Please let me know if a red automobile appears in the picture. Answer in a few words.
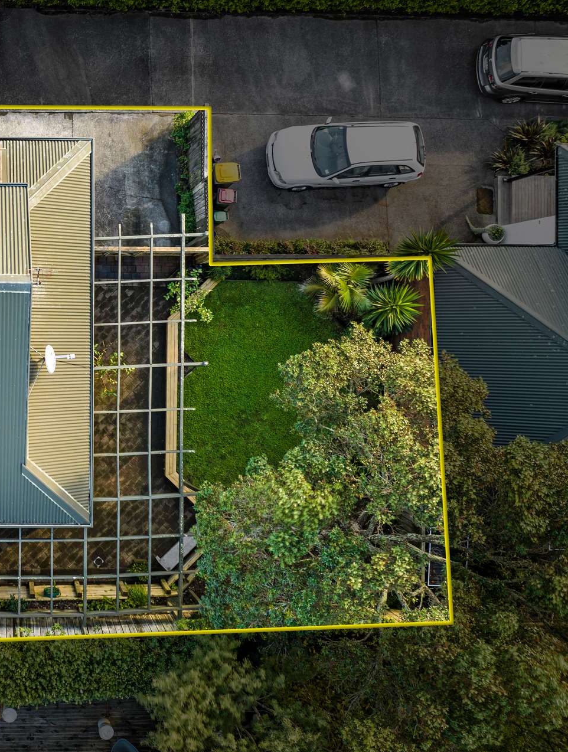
No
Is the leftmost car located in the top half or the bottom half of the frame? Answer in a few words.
top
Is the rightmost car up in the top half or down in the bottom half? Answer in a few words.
top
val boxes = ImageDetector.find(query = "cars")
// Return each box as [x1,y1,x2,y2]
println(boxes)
[475,30,568,105]
[264,113,428,192]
